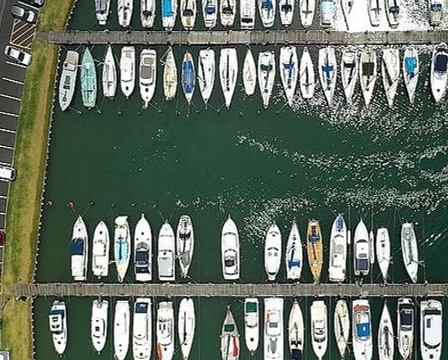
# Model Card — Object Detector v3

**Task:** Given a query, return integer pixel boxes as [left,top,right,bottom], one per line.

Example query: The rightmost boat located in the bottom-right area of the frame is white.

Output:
[419,298,442,360]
